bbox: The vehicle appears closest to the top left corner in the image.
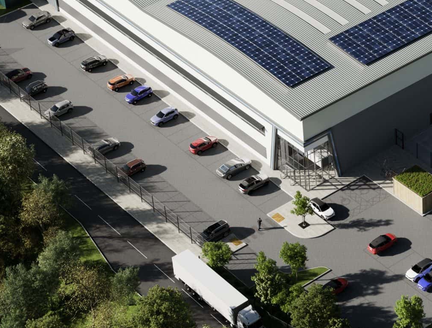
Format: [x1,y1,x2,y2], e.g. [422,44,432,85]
[25,11,51,29]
